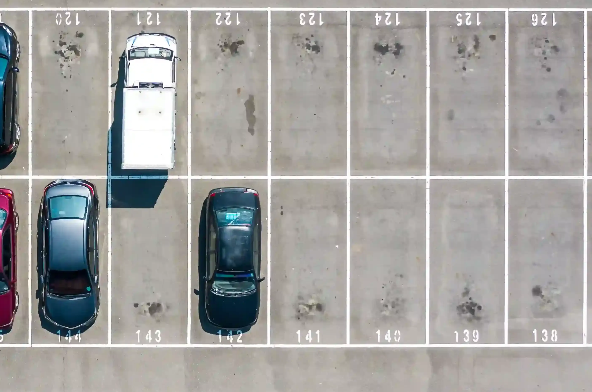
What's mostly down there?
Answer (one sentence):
The scene is dominated by paved ground.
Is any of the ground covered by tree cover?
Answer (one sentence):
No, tree cover can't be seen anywhere here.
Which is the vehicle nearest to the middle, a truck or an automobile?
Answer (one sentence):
Specifically, the vehicle nearest to the middle is an automobile.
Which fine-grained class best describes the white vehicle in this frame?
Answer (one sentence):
What you see as the white vehicle is a truck.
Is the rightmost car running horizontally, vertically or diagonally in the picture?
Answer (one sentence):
The rightmost car is oriented vertically.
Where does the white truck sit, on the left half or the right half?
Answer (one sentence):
The white truck is on the left side of the image.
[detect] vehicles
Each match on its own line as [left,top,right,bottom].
[201,187,267,327]
[0,25,24,156]
[36,179,101,327]
[0,189,20,327]
[115,32,184,171]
